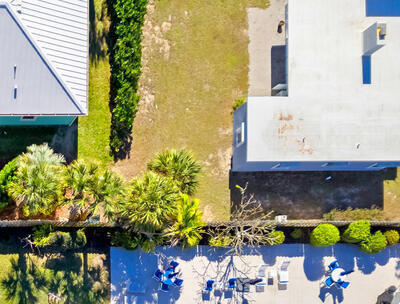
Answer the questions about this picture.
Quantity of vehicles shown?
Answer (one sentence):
No vehicles are visible.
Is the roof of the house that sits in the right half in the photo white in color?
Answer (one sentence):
Yes, white is the color of the roof of the house that sits in the right half.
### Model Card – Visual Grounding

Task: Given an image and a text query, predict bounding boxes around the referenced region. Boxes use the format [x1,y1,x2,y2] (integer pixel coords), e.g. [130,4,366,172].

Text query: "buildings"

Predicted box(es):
[233,0,400,170]
[0,0,90,125]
